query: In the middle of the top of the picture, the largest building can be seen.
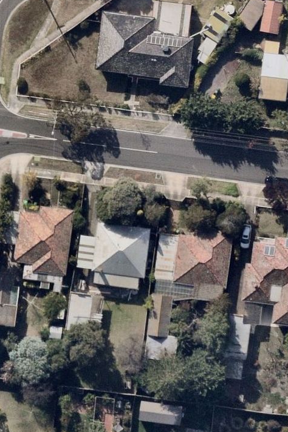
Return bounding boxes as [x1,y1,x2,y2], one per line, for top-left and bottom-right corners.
[96,2,194,89]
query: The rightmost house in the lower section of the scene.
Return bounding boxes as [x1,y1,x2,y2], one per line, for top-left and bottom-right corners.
[224,236,288,380]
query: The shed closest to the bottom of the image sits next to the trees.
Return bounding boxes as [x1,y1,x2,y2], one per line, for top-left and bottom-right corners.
[139,400,183,425]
